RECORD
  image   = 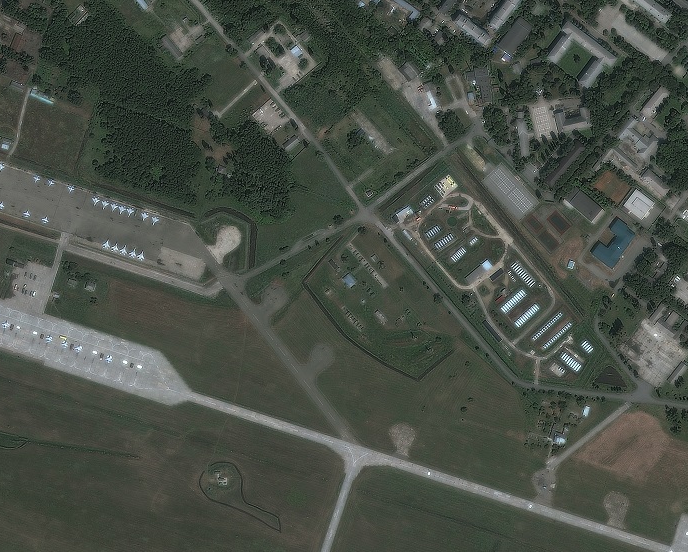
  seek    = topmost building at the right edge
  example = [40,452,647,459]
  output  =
[634,0,672,24]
